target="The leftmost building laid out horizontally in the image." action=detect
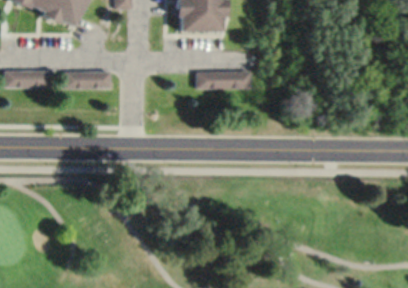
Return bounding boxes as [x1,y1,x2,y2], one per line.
[4,71,46,88]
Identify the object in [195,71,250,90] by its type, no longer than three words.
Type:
building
